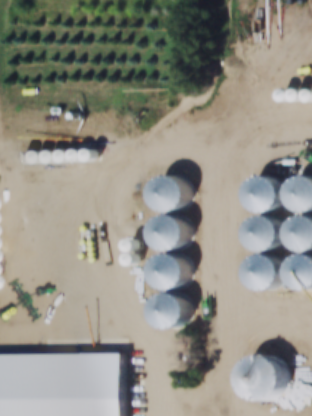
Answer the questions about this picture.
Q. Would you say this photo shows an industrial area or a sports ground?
industrial area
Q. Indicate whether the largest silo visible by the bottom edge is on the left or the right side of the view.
right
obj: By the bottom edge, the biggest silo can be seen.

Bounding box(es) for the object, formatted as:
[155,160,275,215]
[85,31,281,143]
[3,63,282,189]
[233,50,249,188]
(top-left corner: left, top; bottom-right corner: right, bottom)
[230,350,290,400]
